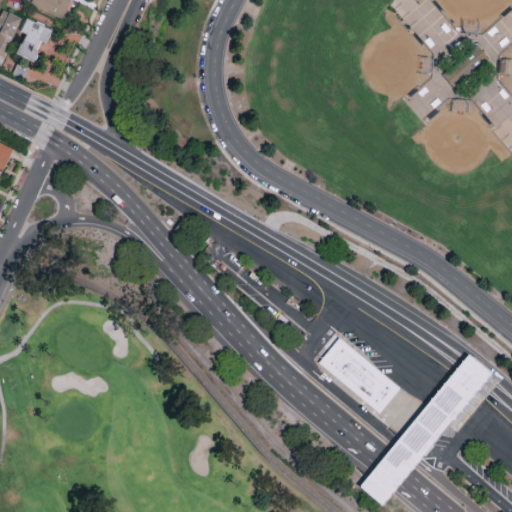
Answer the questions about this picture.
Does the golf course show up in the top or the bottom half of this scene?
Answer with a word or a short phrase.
bottom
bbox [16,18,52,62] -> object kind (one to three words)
house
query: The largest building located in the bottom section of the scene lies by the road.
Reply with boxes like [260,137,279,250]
[320,338,400,412]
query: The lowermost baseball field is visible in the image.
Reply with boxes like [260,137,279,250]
[345,99,512,305]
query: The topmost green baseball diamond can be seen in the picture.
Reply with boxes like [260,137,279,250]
[255,0,434,190]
